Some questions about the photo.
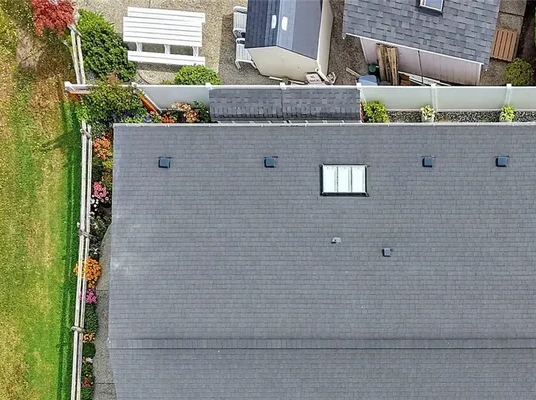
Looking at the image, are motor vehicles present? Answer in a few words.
No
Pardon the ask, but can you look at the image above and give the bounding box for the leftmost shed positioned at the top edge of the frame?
[245,0,328,86]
